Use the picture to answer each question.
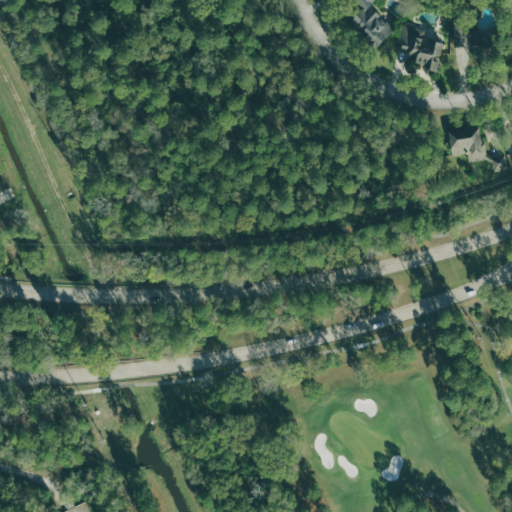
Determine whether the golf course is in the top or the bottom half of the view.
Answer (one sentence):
The bottom half of the photo is where the golf course is.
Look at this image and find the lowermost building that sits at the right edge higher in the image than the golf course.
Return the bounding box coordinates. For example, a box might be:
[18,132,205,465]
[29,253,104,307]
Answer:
[449,123,504,172]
